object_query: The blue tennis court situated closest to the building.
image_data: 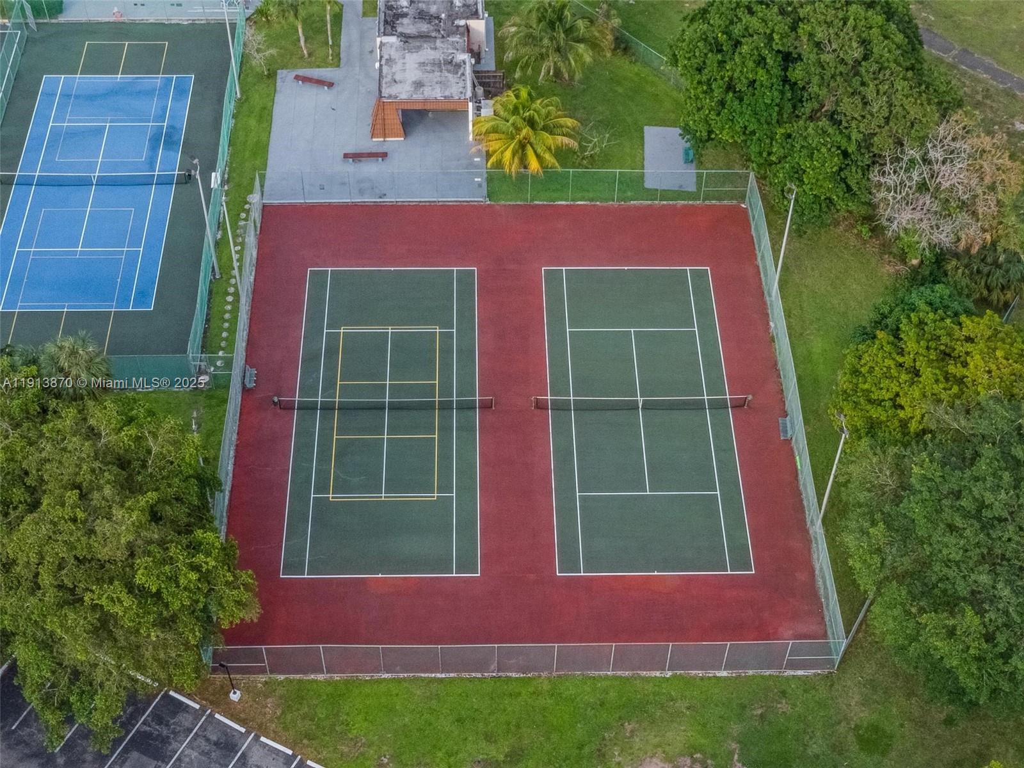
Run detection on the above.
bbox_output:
[0,22,238,386]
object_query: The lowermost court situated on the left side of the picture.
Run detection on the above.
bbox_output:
[280,268,480,577]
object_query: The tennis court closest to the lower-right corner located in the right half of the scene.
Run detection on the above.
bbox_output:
[542,267,755,574]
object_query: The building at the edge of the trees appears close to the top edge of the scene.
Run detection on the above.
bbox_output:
[370,0,488,140]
